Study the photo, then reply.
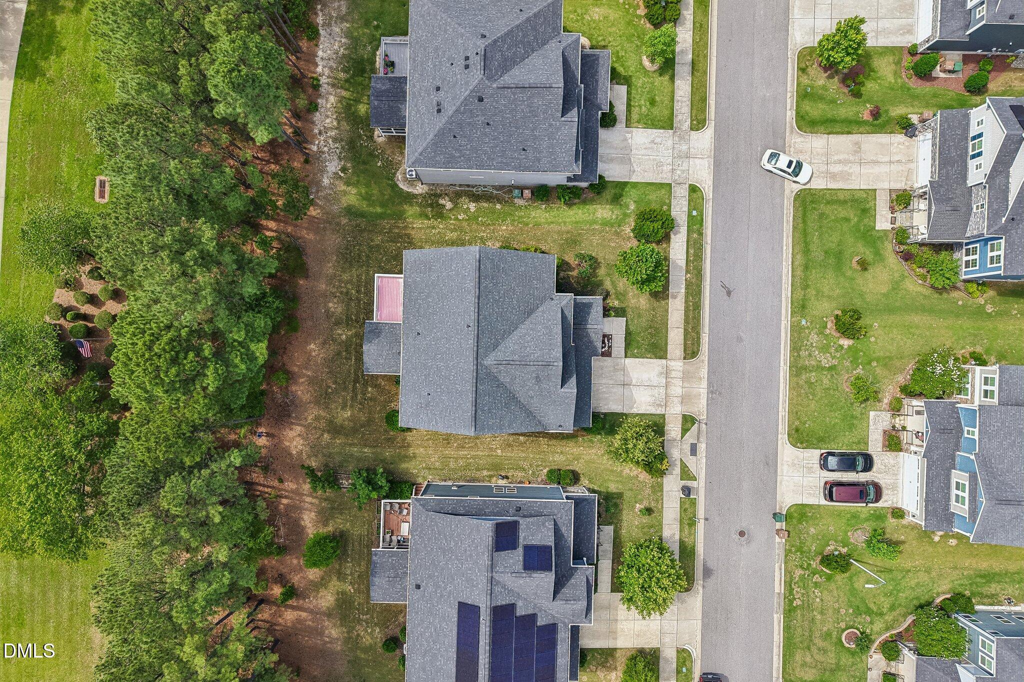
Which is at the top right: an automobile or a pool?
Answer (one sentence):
Visible at the top right is an automobile.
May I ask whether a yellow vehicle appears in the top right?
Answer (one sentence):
No, I can find no yellow vehicle in the top right.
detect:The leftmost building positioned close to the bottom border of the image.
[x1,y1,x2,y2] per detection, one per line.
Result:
[370,483,598,682]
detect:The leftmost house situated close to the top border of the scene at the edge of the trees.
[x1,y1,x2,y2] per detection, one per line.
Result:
[369,0,611,187]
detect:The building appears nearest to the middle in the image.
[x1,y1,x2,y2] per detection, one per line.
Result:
[363,246,603,435]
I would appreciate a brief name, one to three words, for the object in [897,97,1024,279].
house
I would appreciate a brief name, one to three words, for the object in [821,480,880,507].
car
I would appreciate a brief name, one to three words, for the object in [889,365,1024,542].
house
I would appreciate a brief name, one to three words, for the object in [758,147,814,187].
car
